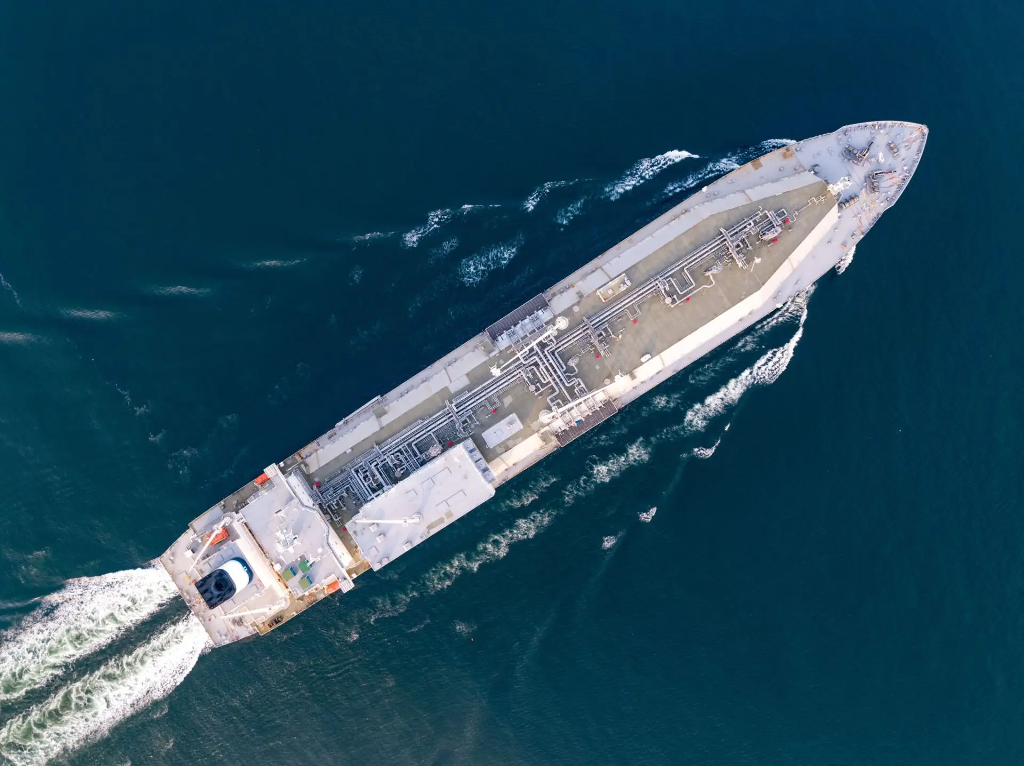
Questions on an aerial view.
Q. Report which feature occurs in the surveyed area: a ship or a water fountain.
ship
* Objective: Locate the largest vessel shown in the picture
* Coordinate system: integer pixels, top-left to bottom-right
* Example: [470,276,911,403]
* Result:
[159,118,931,649]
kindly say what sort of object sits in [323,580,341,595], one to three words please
boat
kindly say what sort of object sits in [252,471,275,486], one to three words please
boat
